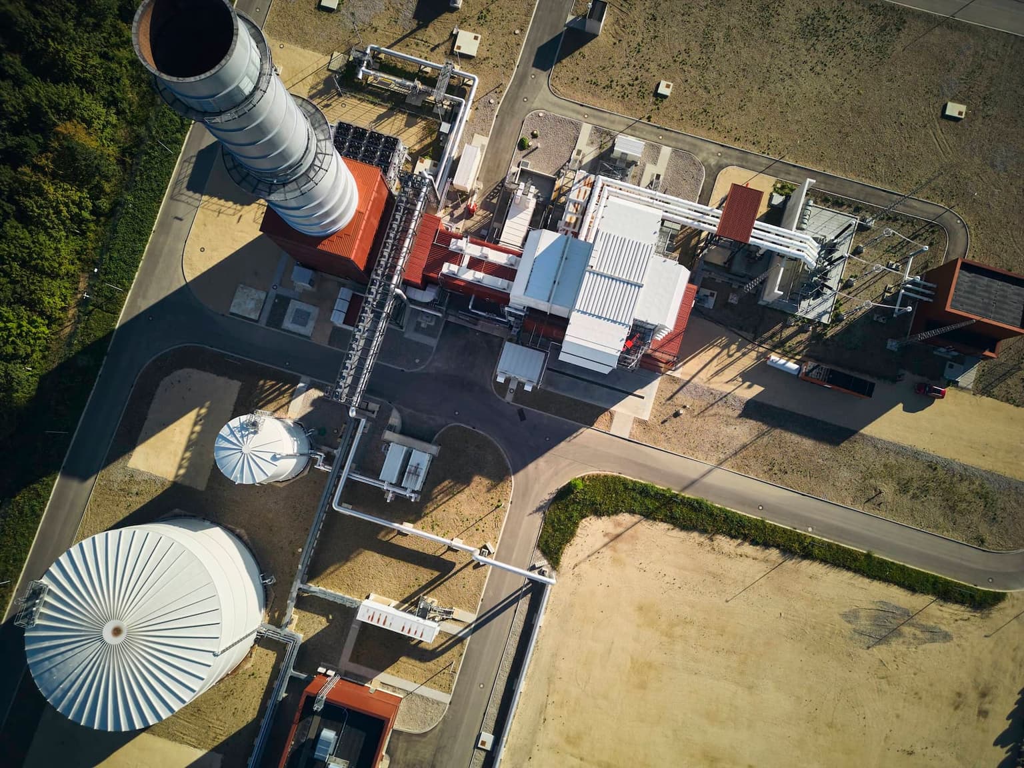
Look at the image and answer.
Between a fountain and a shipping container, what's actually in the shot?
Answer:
shipping container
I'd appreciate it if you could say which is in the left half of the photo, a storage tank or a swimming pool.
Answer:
storage tank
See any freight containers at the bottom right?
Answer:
No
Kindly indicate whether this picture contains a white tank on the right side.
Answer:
No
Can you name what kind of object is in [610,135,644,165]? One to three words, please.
building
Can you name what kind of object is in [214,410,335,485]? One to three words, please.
storage tank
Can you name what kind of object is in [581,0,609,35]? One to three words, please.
shed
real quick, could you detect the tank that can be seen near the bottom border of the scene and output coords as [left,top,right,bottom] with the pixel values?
[11,513,273,734]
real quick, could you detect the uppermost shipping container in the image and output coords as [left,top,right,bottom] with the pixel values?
[453,143,484,198]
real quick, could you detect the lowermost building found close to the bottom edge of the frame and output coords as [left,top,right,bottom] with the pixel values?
[283,656,400,768]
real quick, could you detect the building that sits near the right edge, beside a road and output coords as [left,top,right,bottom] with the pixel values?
[910,260,1024,351]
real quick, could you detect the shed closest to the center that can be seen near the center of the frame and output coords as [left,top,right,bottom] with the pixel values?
[496,341,549,392]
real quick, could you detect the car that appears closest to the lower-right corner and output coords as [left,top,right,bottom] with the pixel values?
[916,381,950,400]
